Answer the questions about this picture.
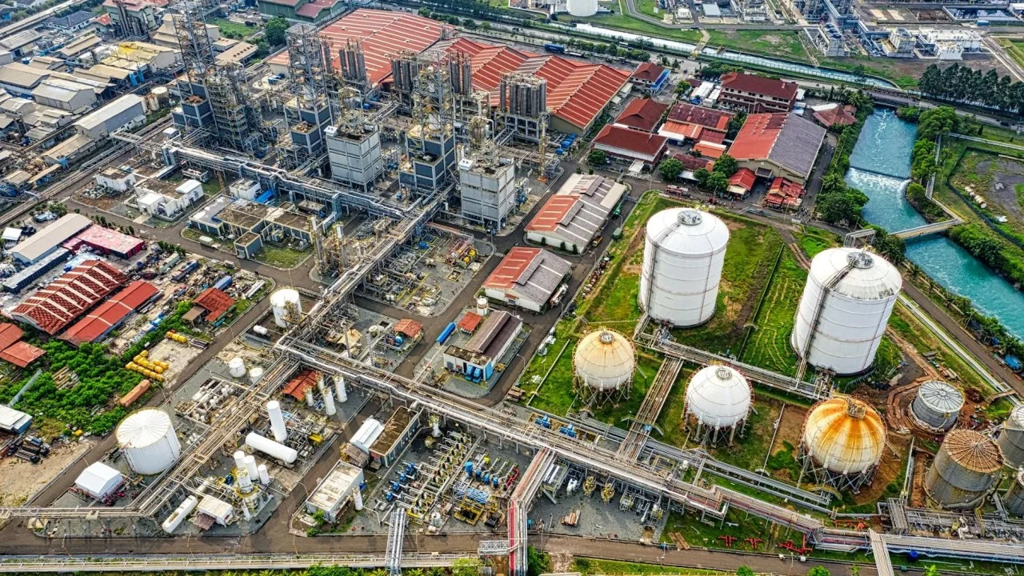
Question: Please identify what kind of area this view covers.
industrial area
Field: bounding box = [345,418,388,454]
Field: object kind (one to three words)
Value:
shed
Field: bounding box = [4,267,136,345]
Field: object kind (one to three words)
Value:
shed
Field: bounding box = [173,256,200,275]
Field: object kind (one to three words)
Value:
vehicle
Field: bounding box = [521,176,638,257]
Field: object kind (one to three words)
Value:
building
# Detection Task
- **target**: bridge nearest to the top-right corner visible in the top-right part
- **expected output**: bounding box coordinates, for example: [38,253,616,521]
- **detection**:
[855,86,935,108]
